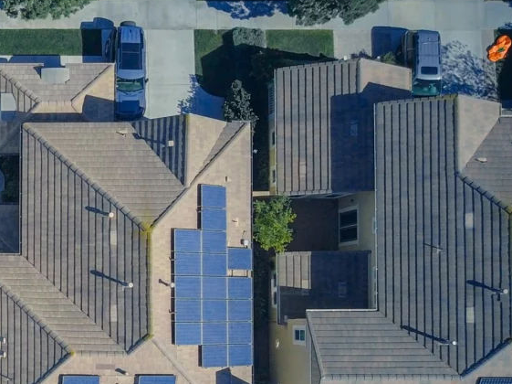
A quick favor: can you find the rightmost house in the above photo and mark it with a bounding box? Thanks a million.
[266,58,512,384]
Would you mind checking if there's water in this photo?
No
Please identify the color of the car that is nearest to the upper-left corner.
blue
